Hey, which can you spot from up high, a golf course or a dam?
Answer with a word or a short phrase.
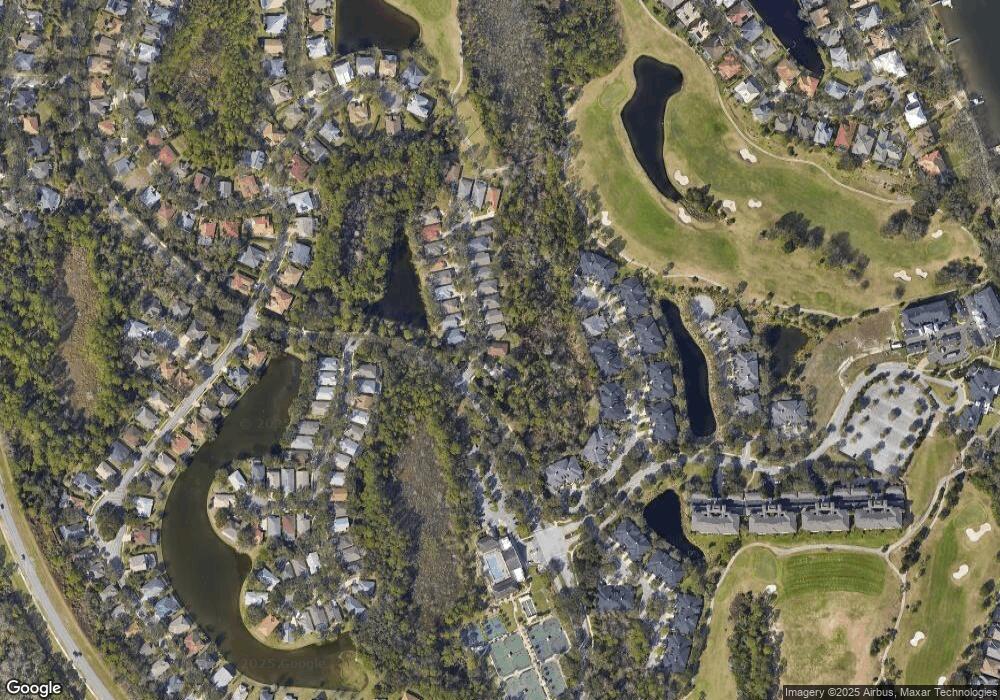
golf course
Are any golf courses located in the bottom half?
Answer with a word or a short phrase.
Yes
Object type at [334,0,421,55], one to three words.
pond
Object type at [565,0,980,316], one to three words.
golf course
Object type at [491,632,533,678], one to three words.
tennis court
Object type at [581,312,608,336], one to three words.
building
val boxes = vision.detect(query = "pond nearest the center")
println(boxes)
[368,216,428,330]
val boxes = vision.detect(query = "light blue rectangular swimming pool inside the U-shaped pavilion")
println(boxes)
[480,550,510,585]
